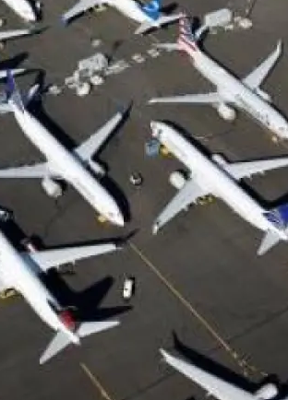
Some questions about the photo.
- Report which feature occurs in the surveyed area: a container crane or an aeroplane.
aeroplane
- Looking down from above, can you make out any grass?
No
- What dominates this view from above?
paved ground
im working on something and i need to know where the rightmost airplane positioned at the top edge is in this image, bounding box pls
[154,15,288,139]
